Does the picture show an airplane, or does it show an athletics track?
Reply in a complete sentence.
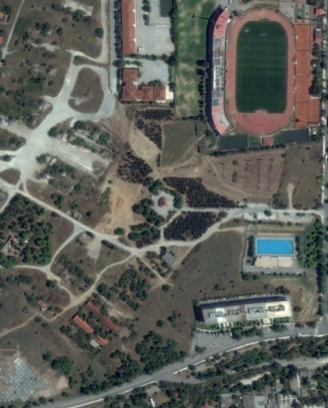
It is an athletics track that can be seen here.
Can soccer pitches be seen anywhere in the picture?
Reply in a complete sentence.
Yes, there's a soccer pitch here.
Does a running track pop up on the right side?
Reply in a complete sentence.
Yes, you'll find a running track on the right side.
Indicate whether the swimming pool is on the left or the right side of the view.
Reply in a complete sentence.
The swimming pool appears in the right half of the scene.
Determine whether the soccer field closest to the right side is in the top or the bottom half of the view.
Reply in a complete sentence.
The top half of the photo is where the soccer field closest to the right side is.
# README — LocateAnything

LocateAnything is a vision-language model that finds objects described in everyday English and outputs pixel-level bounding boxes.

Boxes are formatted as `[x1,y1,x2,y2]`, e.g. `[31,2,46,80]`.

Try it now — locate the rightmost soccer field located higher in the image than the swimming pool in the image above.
[236,21,288,113]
